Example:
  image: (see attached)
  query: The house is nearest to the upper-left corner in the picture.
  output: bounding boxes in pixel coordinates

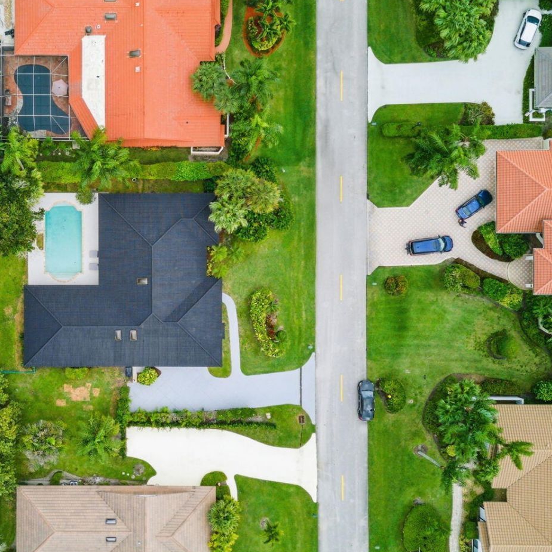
[13,0,226,148]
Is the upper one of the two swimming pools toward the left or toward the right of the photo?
left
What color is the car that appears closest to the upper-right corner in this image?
white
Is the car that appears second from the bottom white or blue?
blue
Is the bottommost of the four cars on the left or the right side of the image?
right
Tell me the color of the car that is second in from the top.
blue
